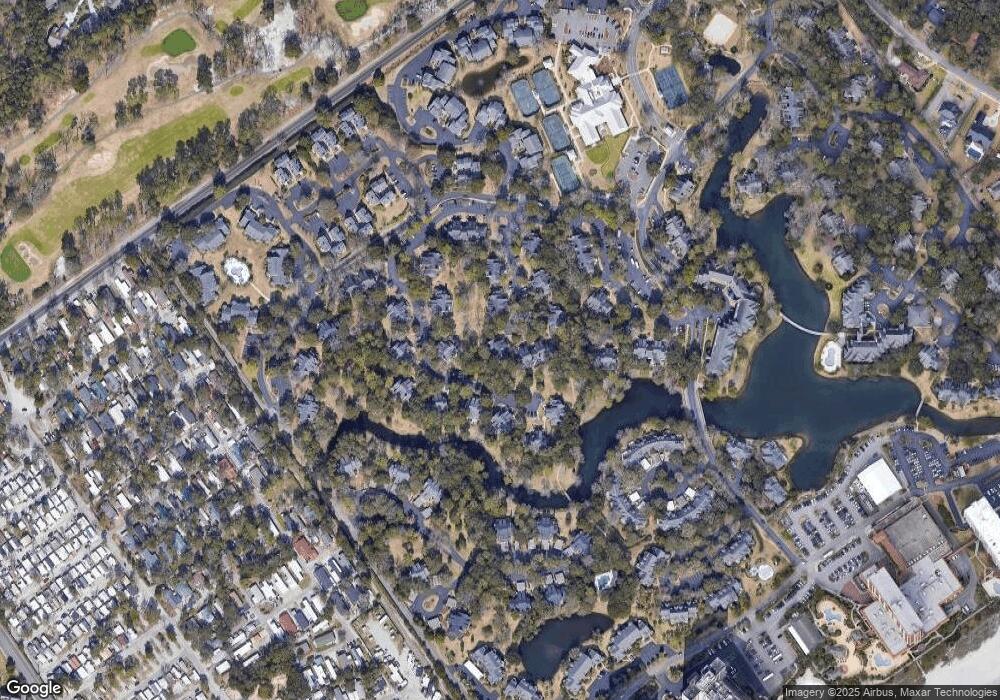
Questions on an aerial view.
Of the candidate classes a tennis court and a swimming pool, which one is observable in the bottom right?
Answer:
swimming pool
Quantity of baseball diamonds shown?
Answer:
0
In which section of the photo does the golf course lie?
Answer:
top left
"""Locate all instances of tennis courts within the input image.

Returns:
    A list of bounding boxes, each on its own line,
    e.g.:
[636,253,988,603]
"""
[531,67,562,105]
[654,65,688,107]
[542,112,571,149]
[511,77,539,116]
[552,154,580,190]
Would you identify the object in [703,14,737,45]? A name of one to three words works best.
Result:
sports court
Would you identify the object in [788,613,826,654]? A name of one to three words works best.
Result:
building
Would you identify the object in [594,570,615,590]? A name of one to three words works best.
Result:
swimming pool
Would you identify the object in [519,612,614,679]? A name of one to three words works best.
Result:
pond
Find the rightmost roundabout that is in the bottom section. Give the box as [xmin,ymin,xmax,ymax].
[640,464,689,499]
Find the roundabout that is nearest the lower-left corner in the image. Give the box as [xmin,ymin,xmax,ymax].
[412,585,450,618]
